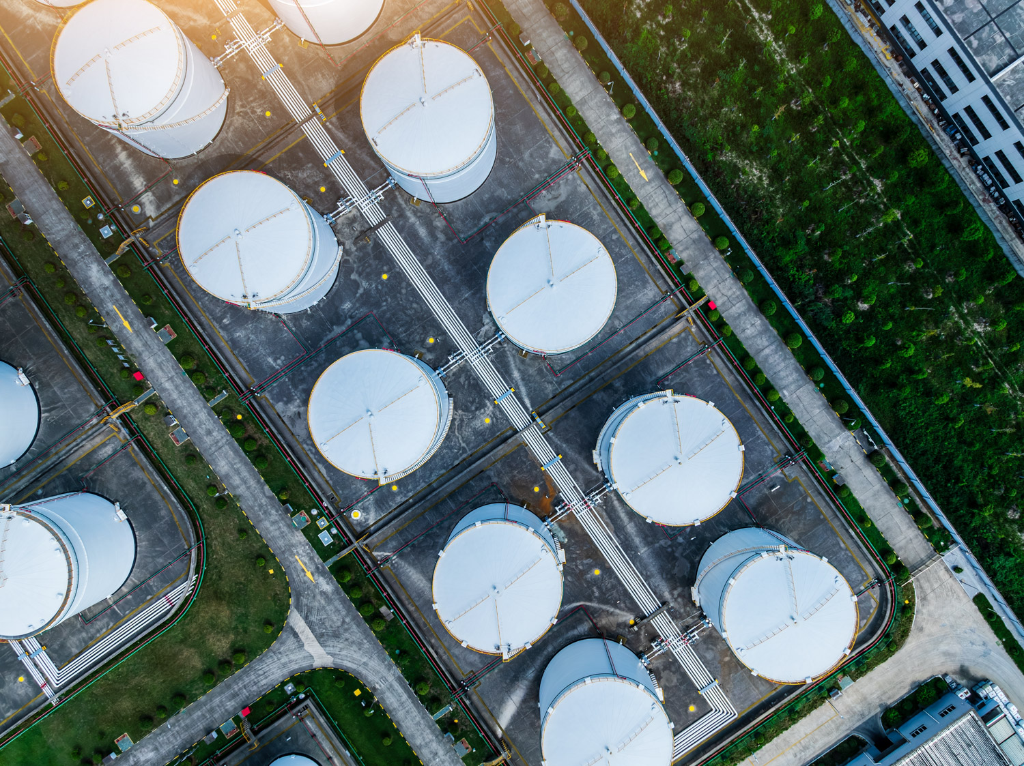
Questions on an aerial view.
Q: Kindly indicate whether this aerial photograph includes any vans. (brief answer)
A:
No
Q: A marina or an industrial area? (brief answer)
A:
industrial area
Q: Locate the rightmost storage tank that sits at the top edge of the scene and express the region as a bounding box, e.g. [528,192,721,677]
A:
[360,30,499,208]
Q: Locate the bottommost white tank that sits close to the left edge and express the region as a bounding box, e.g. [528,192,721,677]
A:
[0,491,135,650]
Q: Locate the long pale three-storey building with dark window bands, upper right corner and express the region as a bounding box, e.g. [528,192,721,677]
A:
[863,0,1024,225]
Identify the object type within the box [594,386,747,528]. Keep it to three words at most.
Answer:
storage tank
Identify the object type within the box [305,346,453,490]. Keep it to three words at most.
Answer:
storage tank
